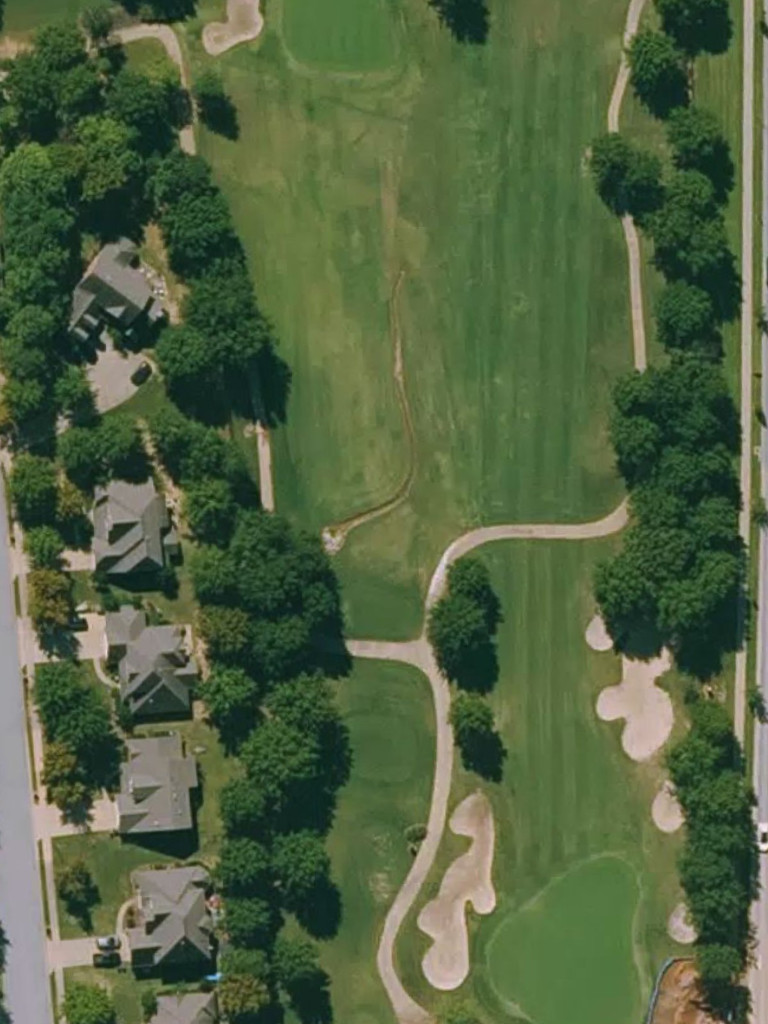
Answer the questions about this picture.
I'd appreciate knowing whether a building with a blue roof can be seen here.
No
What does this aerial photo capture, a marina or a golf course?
golf course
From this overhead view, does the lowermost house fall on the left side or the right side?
left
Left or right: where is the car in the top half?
left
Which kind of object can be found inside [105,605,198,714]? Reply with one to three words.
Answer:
house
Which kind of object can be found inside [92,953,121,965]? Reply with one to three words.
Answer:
vehicle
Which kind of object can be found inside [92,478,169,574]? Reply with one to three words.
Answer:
house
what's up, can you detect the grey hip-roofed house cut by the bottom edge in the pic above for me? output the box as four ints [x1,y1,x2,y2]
[146,993,217,1024]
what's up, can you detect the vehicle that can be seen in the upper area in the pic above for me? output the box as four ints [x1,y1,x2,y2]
[130,362,152,386]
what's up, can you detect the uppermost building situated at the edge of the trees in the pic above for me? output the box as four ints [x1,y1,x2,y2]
[54,241,164,342]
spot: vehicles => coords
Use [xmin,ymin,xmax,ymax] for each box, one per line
[66,618,90,629]
[130,362,152,386]
[759,823,768,851]
[92,953,121,965]
[96,937,121,948]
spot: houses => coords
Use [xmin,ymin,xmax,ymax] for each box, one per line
[54,241,164,342]
[117,736,198,835]
[146,993,217,1024]
[92,478,169,574]
[105,605,198,714]
[128,866,213,967]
